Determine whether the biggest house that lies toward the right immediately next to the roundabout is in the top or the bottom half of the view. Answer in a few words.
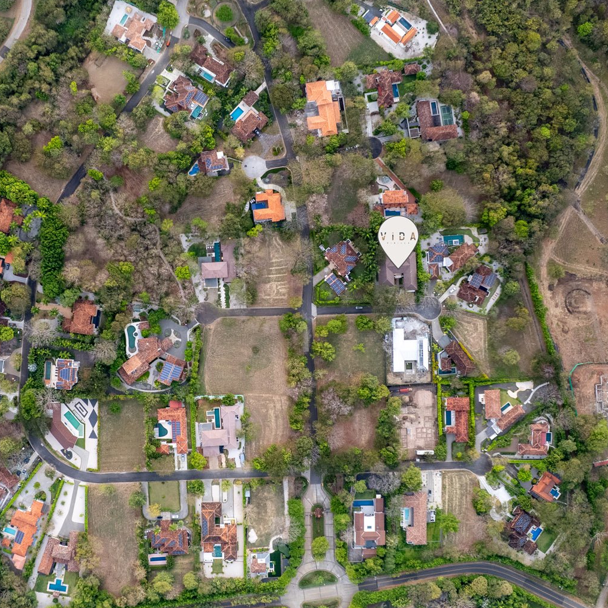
bottom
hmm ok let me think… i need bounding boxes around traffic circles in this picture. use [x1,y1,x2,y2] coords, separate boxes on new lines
[282,559,360,608]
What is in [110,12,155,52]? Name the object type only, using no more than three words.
house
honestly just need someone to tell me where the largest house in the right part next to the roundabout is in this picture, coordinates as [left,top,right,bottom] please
[347,498,385,562]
